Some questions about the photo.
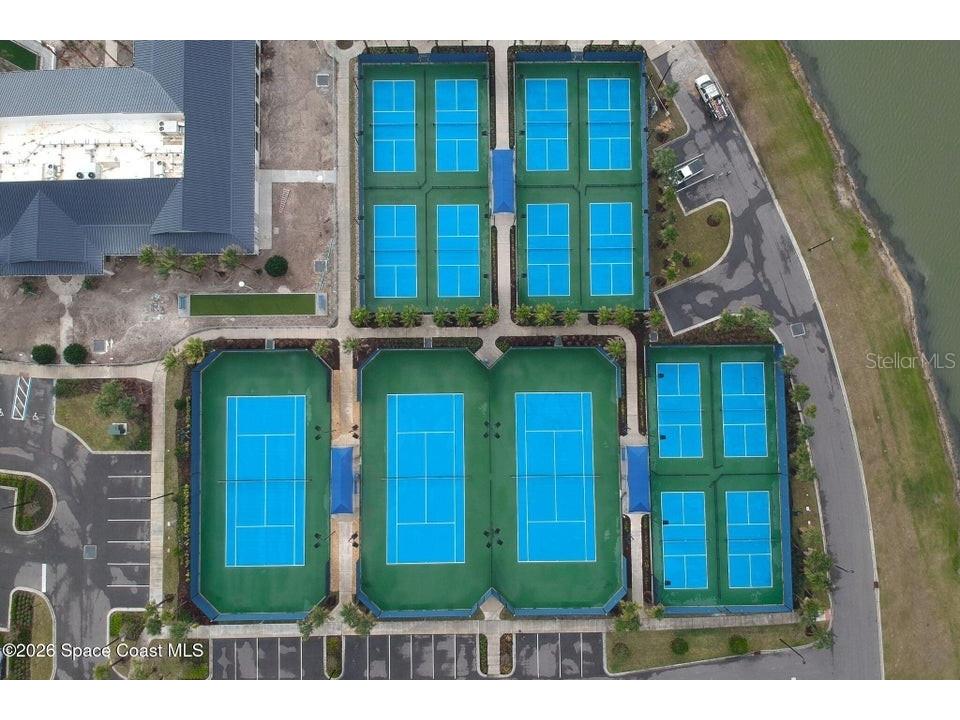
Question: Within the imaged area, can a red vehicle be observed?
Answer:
No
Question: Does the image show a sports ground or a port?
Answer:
sports ground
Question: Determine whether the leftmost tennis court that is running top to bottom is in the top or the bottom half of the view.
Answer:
bottom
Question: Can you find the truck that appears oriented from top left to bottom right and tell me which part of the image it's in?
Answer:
top right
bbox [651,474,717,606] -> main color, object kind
blue sports court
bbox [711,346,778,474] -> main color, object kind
blue sports court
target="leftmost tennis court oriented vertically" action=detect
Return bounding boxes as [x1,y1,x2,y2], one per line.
[201,352,331,612]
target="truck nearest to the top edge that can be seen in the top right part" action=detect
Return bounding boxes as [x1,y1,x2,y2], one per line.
[698,78,733,121]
